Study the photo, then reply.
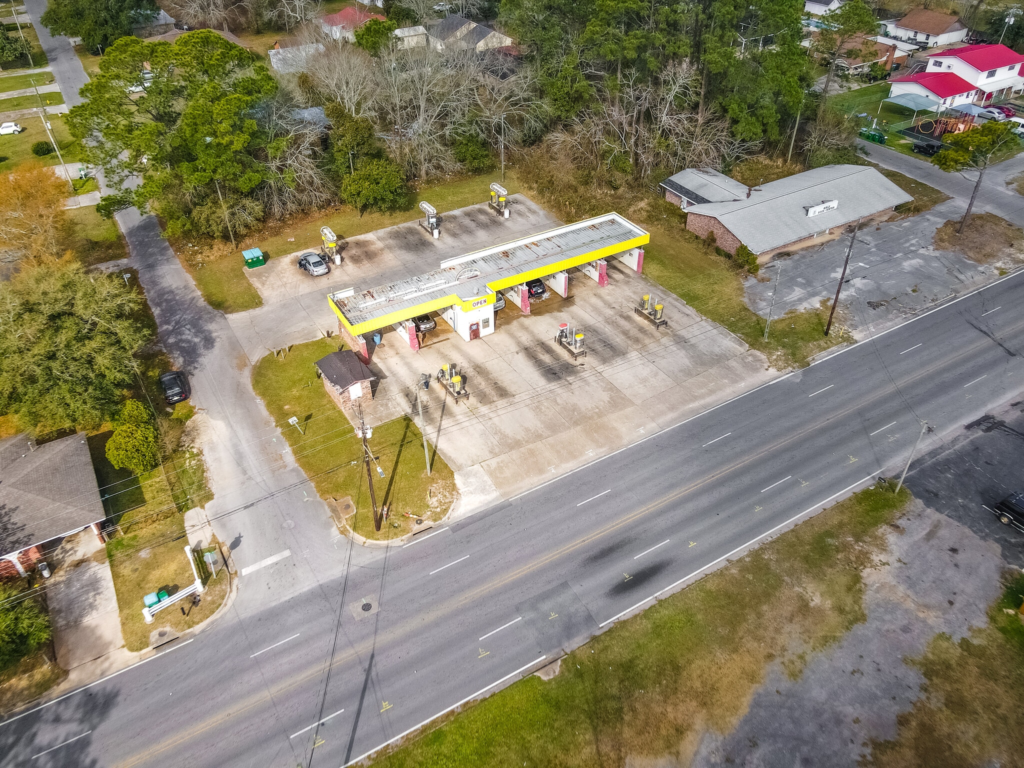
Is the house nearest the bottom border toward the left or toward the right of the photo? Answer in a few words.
left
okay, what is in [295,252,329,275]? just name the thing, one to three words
car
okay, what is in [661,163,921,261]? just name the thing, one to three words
building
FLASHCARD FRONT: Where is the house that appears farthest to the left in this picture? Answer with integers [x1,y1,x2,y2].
[0,426,111,589]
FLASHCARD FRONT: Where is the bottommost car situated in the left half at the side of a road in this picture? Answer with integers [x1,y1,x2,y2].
[153,364,189,398]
